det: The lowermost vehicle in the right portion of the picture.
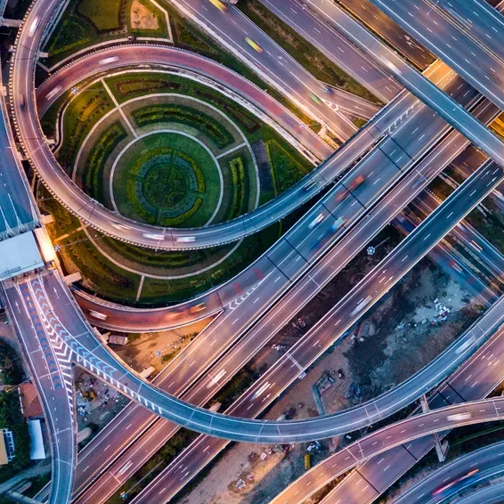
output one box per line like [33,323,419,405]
[441,474,466,494]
